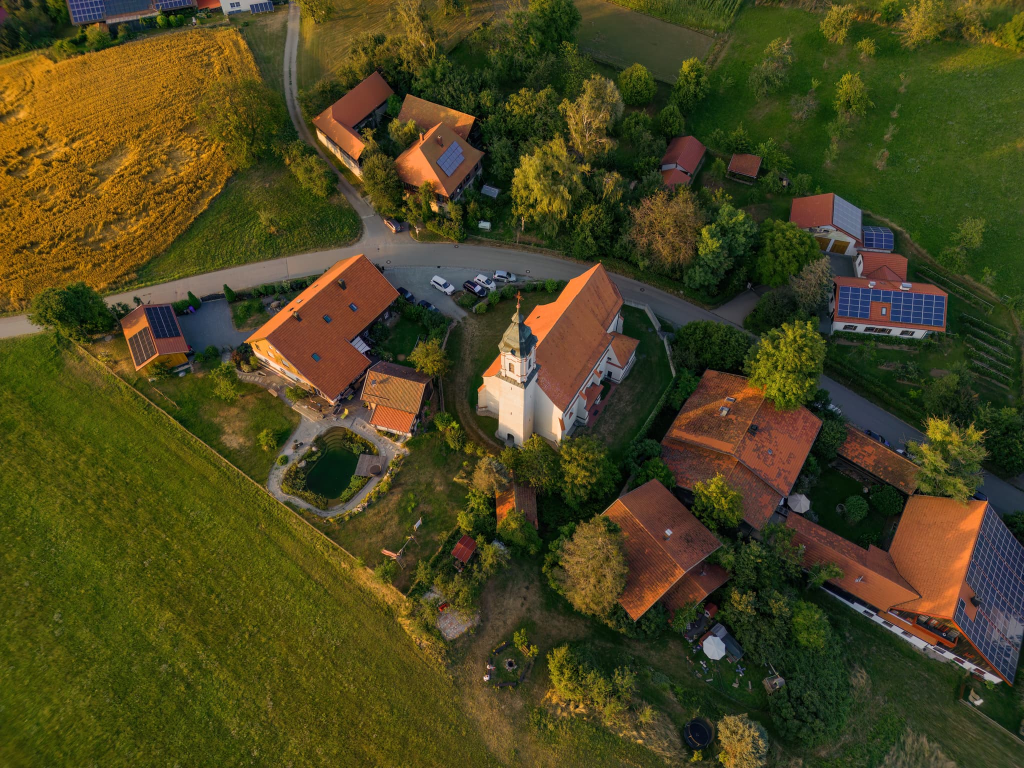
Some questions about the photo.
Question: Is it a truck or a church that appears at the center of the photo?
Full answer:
The feature located at the center of the photo is a church.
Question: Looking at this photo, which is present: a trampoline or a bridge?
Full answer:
This aerial view contains a trampoline.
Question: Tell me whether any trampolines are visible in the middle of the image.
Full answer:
No, I see no trampoline in the middle of the image.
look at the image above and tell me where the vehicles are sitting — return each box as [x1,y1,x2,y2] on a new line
[460,279,488,298]
[185,337,198,359]
[473,273,498,292]
[828,394,852,420]
[964,482,1003,513]
[382,214,404,232]
[392,283,417,305]
[415,295,443,315]
[426,276,454,298]
[491,269,517,283]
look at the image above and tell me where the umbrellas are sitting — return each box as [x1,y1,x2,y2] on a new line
[787,495,809,515]
[702,637,724,660]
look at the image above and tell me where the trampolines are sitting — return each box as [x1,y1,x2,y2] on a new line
[684,714,718,753]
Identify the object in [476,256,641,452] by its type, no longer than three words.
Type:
church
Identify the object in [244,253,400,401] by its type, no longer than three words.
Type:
house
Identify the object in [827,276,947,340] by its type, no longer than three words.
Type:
house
